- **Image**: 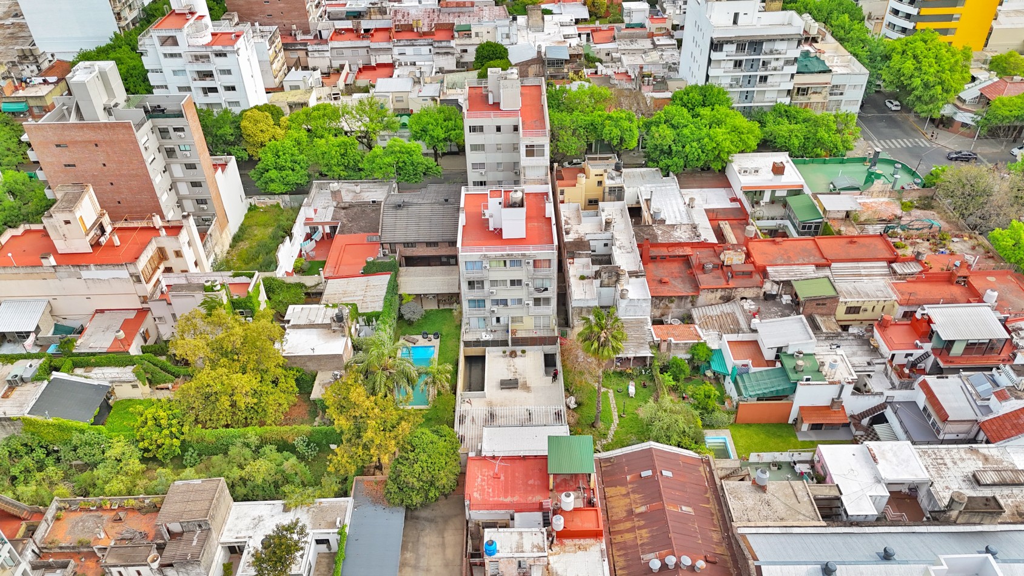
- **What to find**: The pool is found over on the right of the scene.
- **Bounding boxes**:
[704,429,738,460]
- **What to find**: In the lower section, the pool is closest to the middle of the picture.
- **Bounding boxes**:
[389,335,443,412]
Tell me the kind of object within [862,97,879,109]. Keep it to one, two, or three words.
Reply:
vehicle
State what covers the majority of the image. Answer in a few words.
buildings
